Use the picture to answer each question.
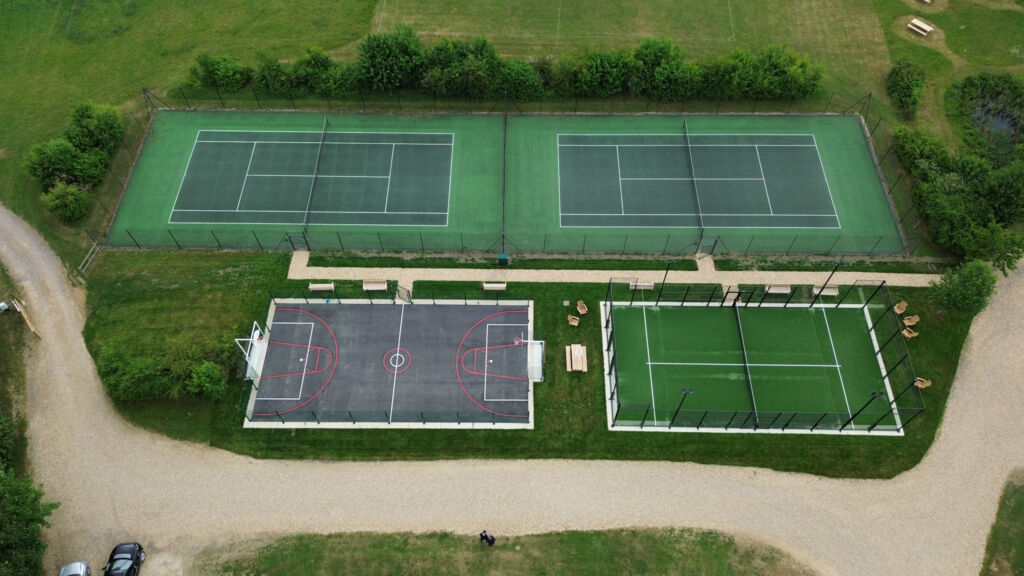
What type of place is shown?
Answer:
sports ground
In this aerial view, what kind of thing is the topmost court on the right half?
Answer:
tennis court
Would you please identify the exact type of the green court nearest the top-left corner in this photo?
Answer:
tennis court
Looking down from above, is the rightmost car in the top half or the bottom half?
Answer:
bottom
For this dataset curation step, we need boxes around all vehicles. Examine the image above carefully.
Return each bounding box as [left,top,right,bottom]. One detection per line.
[58,560,94,576]
[100,542,144,576]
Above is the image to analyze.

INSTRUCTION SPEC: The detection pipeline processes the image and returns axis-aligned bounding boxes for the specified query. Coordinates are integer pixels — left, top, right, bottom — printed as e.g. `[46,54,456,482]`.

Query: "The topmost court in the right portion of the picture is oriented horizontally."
[504,110,911,257]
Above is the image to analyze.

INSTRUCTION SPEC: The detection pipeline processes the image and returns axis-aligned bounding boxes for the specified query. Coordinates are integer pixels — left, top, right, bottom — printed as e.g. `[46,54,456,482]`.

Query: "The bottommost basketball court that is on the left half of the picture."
[242,298,544,430]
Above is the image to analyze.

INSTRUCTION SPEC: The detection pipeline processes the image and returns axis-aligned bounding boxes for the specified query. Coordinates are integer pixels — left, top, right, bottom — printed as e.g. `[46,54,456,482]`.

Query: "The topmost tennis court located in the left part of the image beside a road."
[97,107,506,253]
